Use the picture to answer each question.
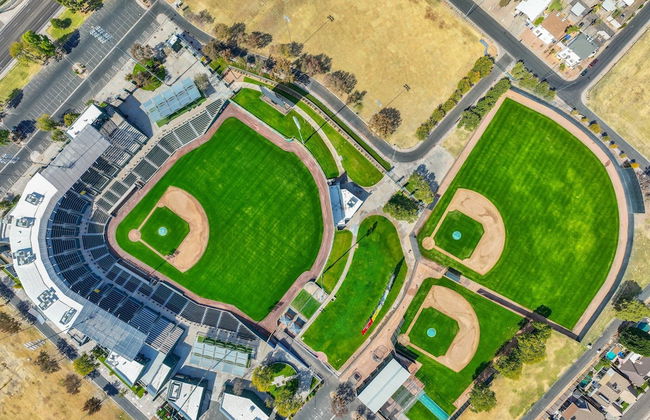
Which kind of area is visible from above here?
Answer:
sports ground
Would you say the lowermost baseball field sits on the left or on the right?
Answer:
right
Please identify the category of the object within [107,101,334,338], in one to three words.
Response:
baseball field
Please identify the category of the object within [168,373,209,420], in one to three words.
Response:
building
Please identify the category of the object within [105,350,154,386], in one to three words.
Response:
building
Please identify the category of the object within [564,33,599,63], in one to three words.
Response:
house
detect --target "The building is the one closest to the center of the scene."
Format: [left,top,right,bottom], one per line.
[330,183,363,226]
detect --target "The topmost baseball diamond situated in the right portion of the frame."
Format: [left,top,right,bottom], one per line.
[411,91,628,341]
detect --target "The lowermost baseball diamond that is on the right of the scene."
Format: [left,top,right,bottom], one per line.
[396,277,523,420]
